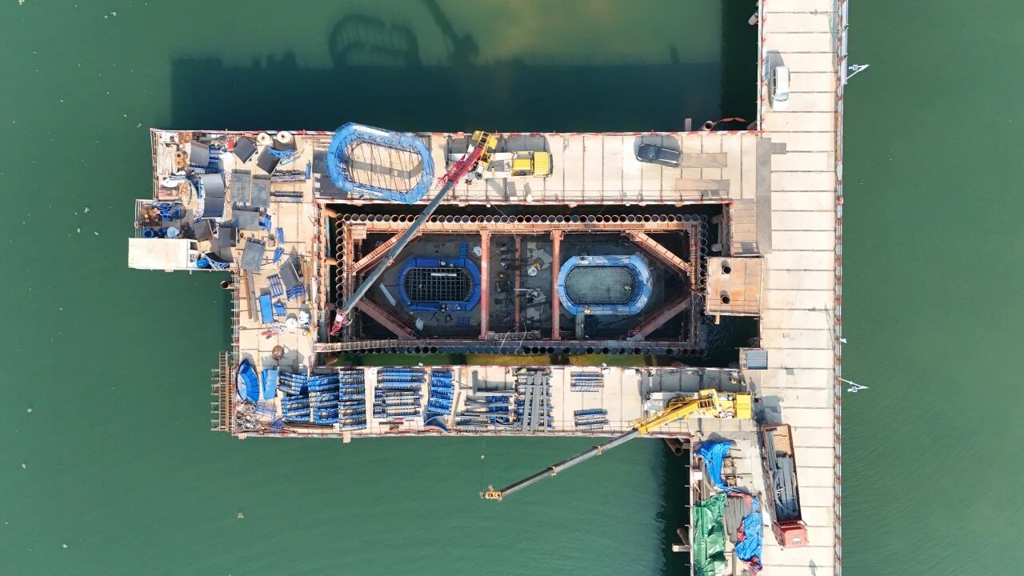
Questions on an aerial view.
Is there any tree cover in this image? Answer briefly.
No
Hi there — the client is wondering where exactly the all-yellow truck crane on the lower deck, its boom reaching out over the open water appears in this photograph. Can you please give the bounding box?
[479,376,753,506]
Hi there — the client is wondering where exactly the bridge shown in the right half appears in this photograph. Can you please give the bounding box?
[740,0,850,576]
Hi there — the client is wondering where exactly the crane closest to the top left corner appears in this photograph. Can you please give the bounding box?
[326,127,554,343]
